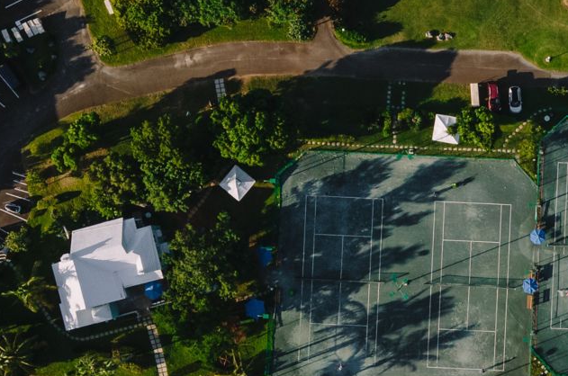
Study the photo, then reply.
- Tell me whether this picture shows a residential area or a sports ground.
sports ground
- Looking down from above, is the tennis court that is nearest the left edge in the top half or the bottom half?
bottom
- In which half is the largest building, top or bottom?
bottom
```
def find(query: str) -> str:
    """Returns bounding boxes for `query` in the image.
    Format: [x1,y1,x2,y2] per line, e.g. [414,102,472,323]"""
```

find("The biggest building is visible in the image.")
[53,217,167,330]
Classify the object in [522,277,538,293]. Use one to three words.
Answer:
umbrella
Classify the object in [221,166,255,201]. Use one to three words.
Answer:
tent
